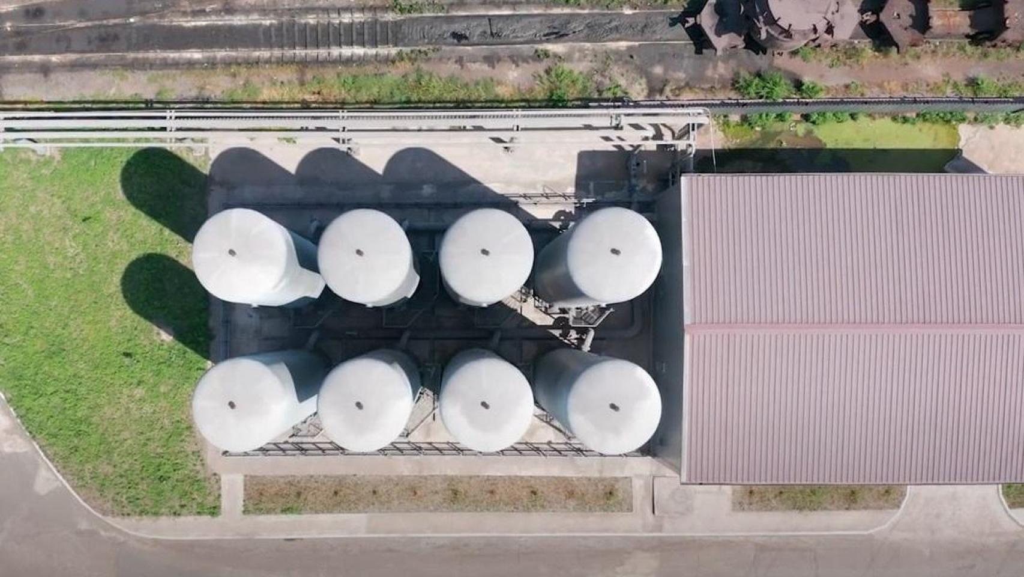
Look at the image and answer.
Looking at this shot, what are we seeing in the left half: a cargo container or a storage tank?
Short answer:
storage tank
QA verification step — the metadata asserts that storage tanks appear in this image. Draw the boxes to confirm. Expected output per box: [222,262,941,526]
[529,209,662,311]
[318,325,425,453]
[529,325,662,453]
[192,325,334,453]
[318,209,425,311]
[192,209,333,311]
[439,325,534,453]
[439,209,534,311]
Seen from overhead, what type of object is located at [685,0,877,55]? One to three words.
rail car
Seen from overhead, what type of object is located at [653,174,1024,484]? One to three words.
warehouse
